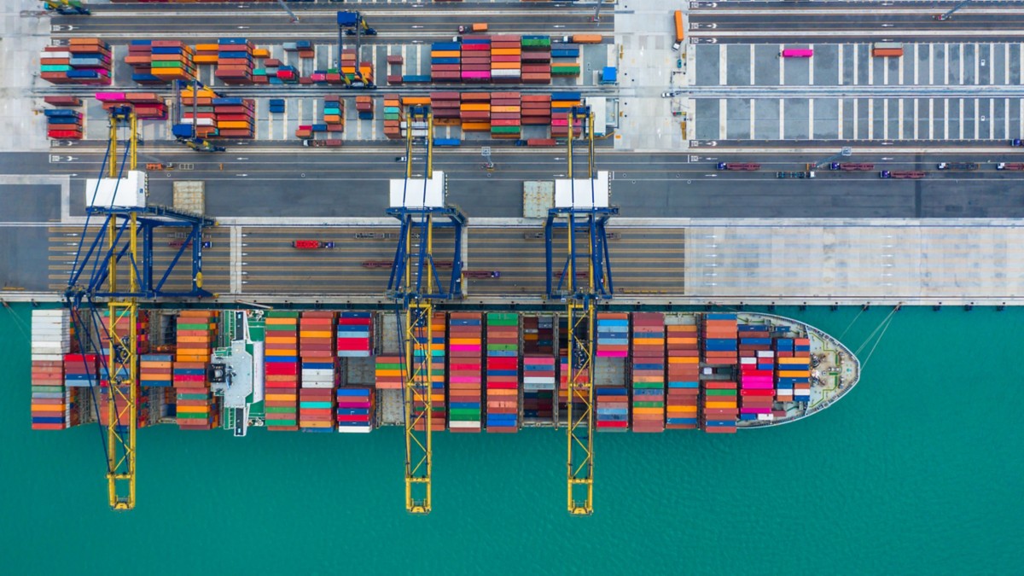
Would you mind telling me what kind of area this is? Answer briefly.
port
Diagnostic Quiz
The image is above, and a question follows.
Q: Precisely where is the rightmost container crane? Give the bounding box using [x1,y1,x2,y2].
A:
[541,102,619,517]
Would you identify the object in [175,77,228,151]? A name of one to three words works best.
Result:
crane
